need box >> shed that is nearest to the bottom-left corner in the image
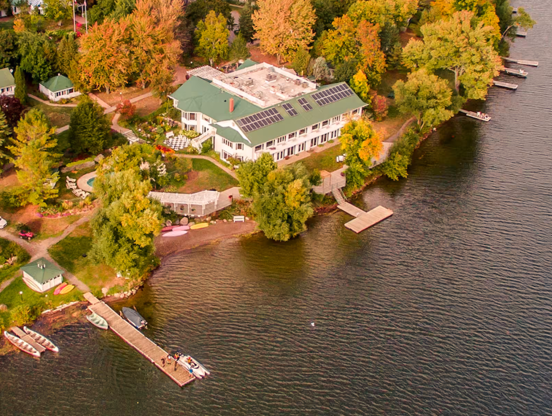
[18,254,64,292]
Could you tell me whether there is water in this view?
Yes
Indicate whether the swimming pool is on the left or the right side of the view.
left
